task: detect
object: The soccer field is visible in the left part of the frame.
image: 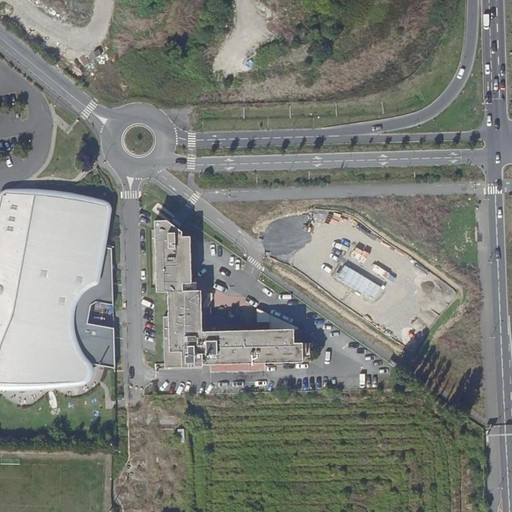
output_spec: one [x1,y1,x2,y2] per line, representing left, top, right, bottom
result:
[0,460,104,512]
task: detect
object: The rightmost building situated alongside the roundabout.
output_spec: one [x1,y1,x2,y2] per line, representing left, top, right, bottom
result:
[153,219,304,370]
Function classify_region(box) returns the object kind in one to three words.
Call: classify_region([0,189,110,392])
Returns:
building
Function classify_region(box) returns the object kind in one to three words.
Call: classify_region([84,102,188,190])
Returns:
roundabout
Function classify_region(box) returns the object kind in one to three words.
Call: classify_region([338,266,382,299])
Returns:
shed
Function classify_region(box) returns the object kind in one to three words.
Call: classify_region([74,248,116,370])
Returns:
building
